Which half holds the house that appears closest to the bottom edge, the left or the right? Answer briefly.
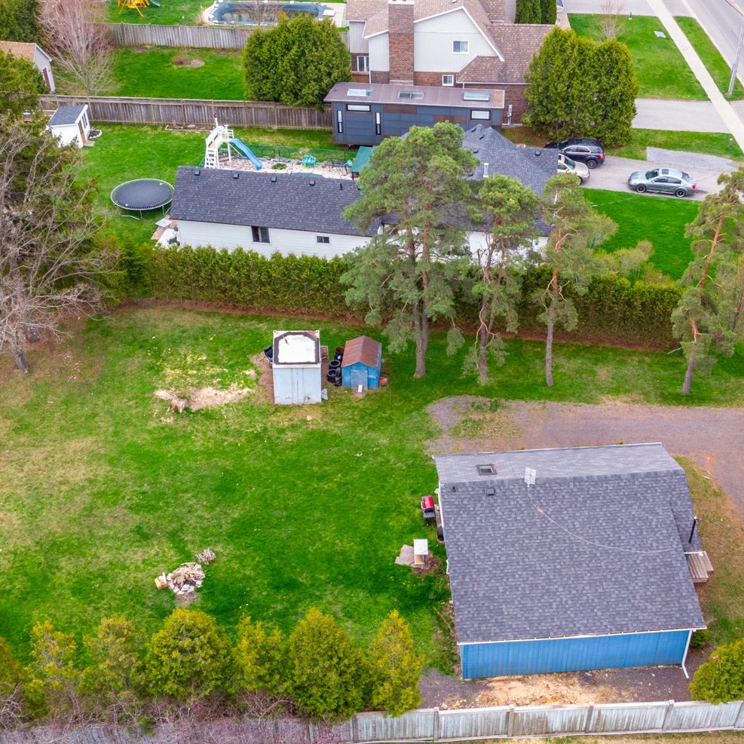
right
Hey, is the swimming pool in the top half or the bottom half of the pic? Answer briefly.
top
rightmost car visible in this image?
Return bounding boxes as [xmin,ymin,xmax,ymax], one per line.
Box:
[623,165,696,197]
